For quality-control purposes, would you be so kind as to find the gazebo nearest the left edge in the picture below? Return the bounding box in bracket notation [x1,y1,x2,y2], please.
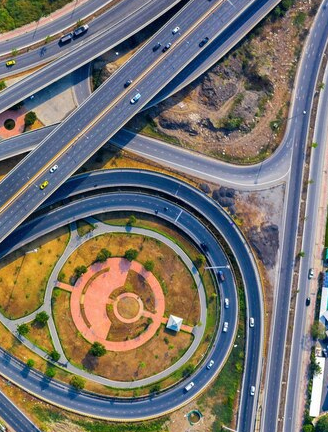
[164,315,182,332]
